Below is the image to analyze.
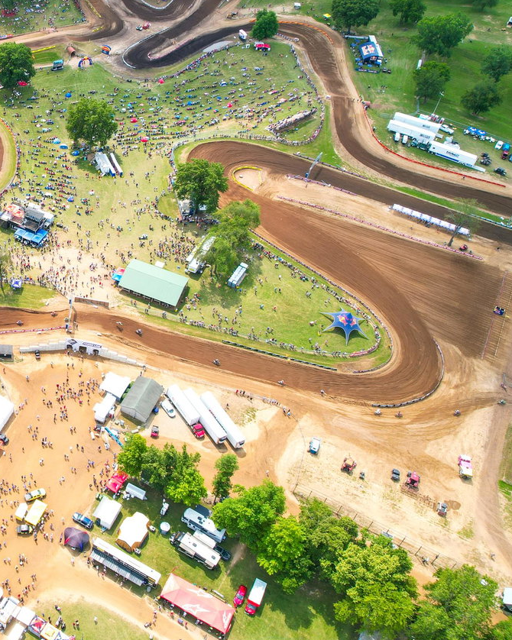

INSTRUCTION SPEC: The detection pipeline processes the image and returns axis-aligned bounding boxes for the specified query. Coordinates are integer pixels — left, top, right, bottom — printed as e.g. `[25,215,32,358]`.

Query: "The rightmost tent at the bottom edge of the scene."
[156,574,235,639]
